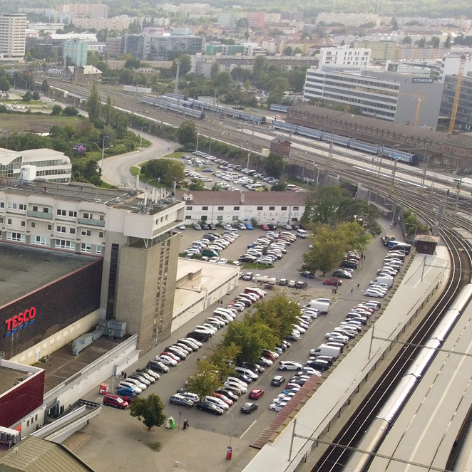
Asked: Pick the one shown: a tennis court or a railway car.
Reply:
railway car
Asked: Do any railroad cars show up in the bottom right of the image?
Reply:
Yes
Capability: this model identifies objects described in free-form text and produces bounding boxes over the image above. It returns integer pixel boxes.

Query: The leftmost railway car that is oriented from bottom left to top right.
[340,419,391,472]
